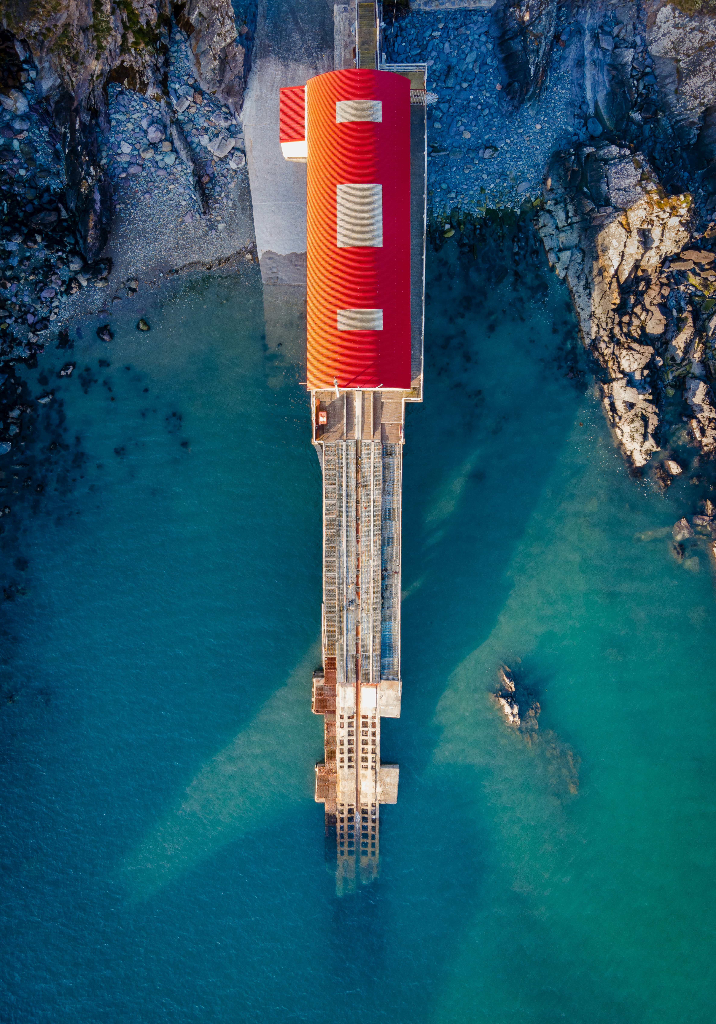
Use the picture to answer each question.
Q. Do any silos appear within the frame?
No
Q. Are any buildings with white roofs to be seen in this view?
No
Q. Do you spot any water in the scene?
Yes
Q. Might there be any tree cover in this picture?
No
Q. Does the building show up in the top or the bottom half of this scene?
top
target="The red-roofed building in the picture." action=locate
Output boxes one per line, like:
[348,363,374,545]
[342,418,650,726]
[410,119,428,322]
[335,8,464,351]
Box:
[279,69,410,392]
